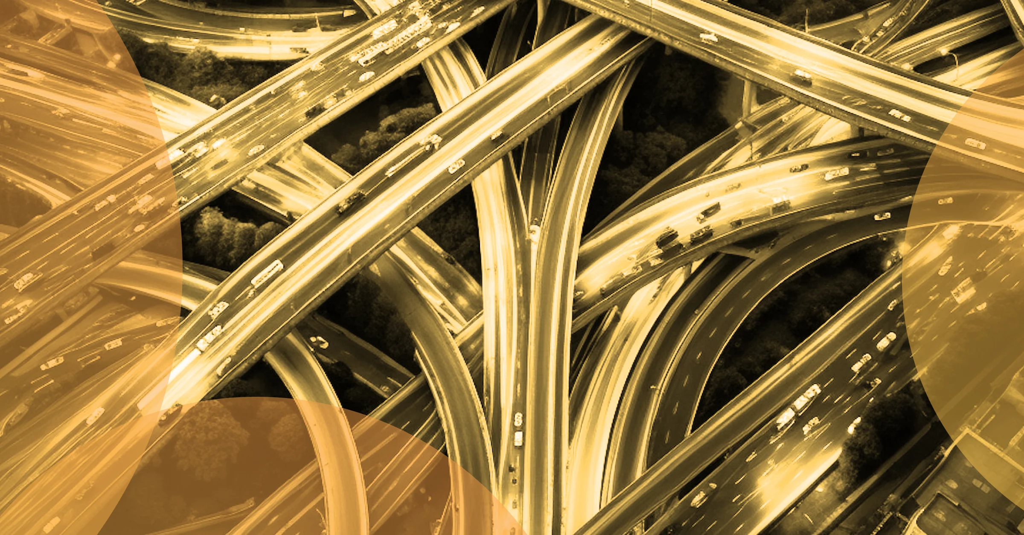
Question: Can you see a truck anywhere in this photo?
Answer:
Yes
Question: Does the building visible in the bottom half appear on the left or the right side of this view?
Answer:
right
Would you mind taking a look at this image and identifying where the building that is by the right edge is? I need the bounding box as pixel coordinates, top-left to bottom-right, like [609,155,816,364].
[975,364,1024,469]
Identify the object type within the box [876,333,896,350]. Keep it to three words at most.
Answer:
vehicle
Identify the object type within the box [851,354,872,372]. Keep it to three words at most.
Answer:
vehicle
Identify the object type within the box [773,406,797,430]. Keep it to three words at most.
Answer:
truck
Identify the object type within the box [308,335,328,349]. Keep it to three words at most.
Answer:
car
